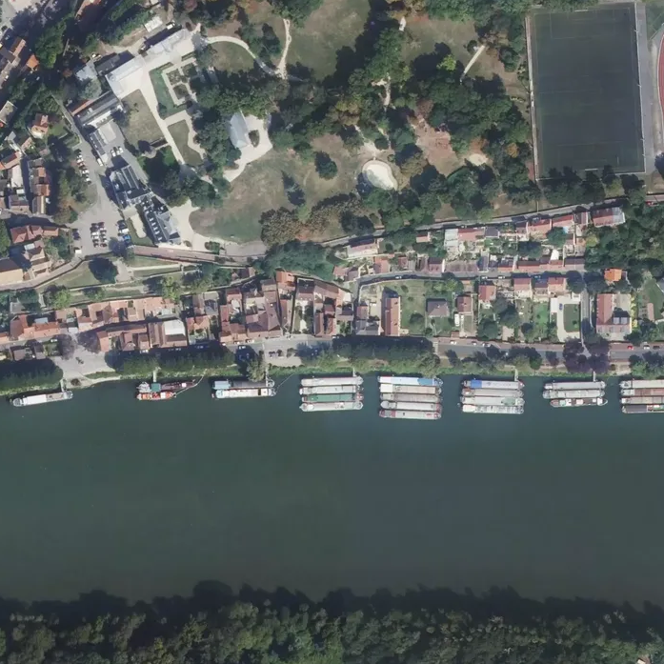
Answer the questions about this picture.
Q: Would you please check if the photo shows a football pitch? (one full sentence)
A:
Yes, a football pitch is visible in the scene.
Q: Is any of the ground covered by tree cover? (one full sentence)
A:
Yes, there's tree cover in this view.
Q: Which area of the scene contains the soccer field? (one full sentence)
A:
The soccer field is in the top right part of the image.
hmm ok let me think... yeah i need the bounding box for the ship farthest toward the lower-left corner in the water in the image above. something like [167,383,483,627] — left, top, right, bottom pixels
[13,391,74,406]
